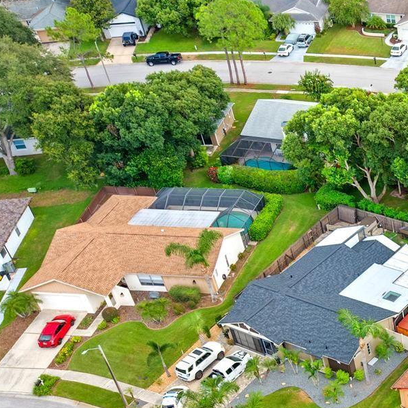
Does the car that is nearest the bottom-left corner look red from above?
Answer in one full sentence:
Yes, red is the color of the car that is nearest the bottom-left corner.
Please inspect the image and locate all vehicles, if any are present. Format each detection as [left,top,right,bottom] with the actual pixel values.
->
[198,343,258,388]
[391,45,405,56]
[120,30,136,43]
[296,33,311,47]
[170,341,224,380]
[277,46,291,56]
[153,380,192,408]
[146,50,181,65]
[35,315,72,348]
[284,35,298,46]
